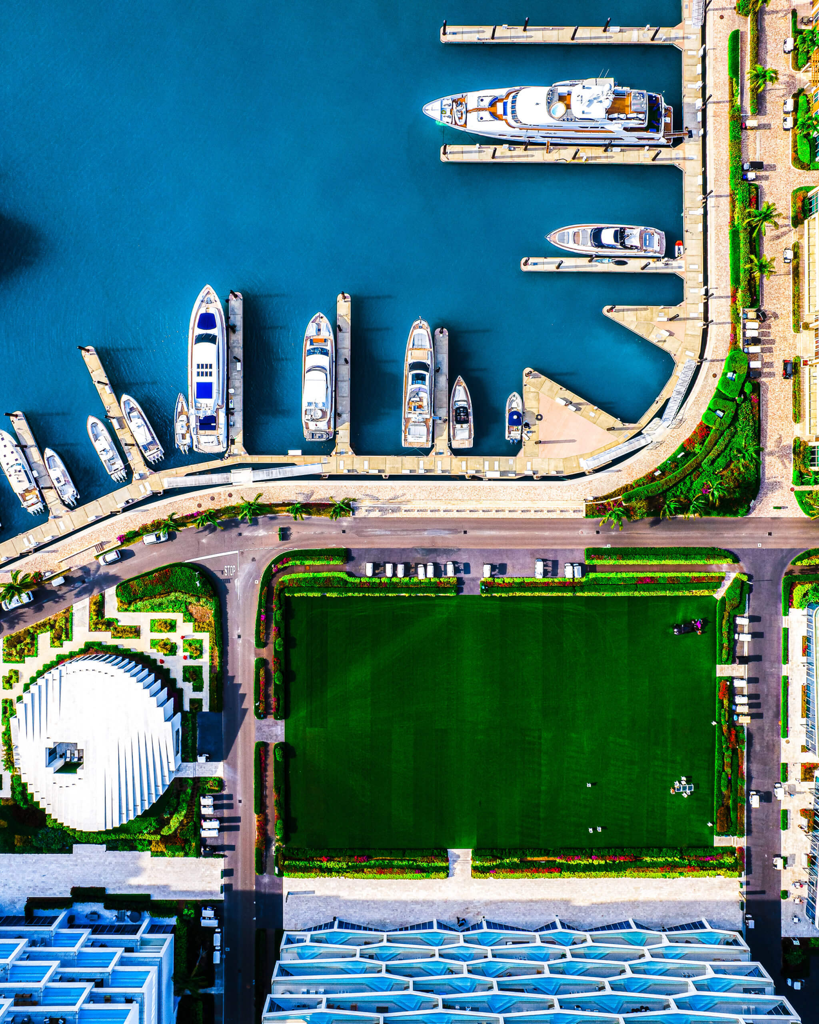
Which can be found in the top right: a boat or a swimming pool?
boat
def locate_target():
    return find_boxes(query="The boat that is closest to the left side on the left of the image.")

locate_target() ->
[0,427,46,519]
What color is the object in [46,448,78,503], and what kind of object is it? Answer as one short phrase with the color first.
white boat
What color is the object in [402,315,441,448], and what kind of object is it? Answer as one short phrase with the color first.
white boat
